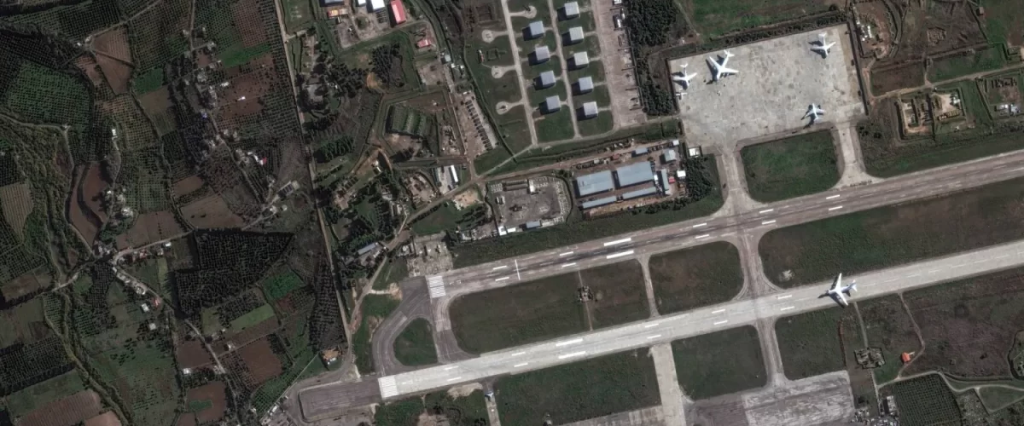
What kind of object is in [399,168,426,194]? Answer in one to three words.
building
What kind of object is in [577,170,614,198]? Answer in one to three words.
building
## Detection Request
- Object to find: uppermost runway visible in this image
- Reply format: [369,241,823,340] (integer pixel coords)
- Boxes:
[427,149,1024,300]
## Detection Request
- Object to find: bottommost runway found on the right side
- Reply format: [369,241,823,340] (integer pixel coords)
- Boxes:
[380,240,1024,399]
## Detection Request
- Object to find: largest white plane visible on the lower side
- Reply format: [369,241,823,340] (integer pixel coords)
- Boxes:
[828,274,860,304]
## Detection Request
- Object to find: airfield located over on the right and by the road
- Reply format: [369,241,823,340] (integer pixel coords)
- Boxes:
[287,0,1024,426]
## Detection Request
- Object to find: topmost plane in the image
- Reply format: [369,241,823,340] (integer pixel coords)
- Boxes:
[813,32,836,57]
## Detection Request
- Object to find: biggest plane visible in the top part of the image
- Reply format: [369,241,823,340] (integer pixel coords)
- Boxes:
[710,49,739,80]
